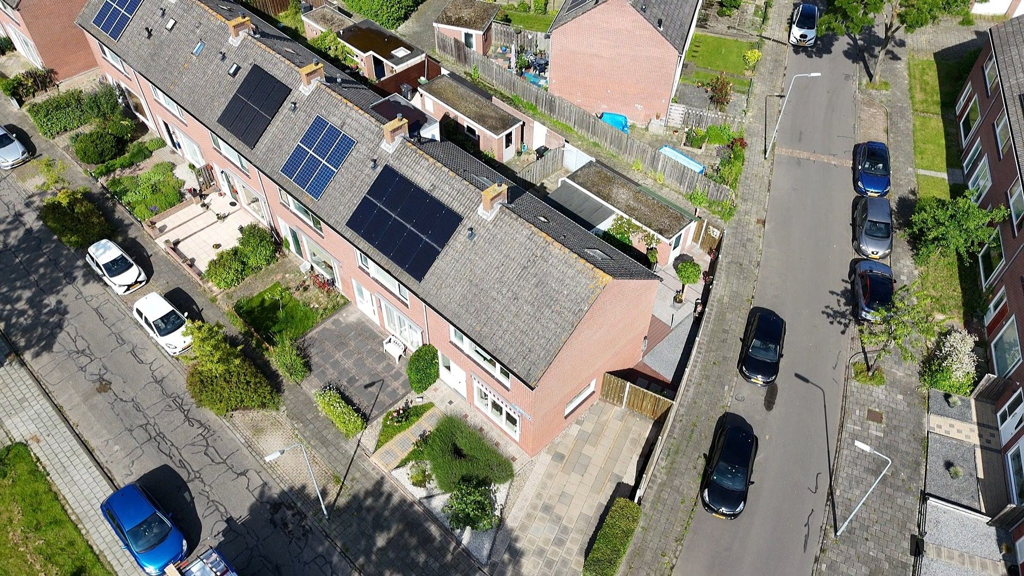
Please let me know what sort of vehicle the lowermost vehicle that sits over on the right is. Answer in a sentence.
In the photo, the lowermost vehicle that sits over on the right shows up as an automobile.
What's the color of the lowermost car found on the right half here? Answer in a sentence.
In this view, the lowermost car found on the right half is black.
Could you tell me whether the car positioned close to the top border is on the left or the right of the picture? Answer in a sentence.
It is on the right.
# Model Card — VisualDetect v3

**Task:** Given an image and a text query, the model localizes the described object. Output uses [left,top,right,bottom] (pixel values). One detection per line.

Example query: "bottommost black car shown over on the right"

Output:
[699,418,762,521]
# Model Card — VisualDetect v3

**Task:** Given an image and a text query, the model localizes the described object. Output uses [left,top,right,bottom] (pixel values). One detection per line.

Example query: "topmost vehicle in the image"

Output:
[787,3,821,47]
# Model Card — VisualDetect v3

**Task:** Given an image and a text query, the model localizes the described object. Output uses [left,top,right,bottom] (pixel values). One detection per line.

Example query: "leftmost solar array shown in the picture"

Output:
[89,0,139,39]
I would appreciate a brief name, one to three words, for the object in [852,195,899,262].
car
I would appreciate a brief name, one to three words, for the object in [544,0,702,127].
house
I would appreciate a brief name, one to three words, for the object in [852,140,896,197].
car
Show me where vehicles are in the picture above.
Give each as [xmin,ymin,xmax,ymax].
[106,472,184,576]
[0,123,28,172]
[852,195,899,262]
[737,307,789,387]
[787,3,821,47]
[850,265,899,329]
[699,418,762,521]
[89,236,149,297]
[131,290,195,359]
[852,140,896,197]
